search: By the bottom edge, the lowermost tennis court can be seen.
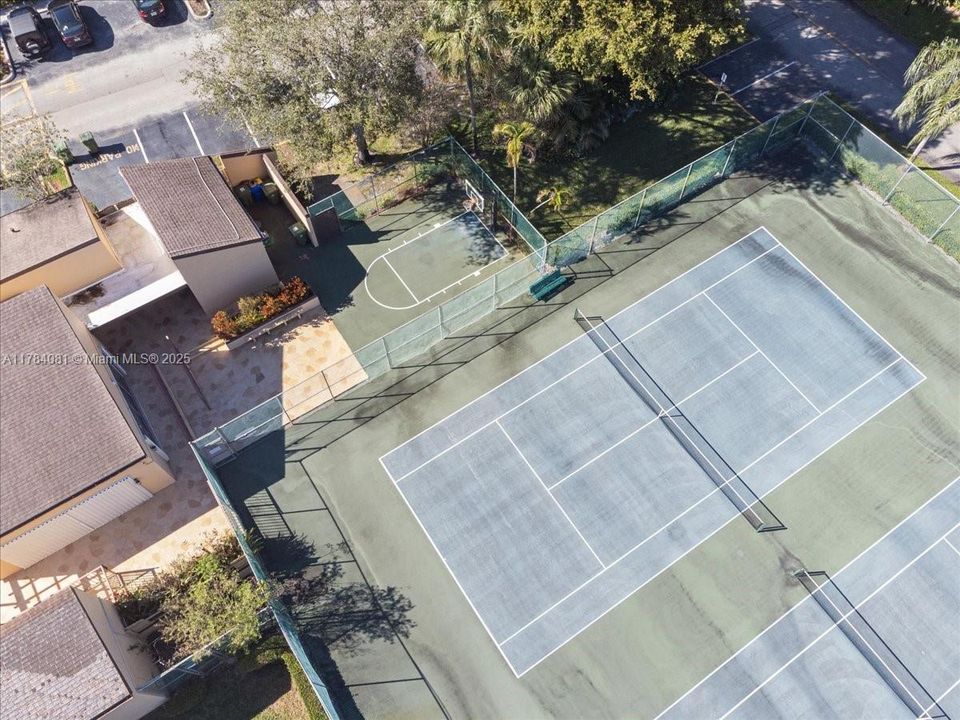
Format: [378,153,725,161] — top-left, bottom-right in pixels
[654,476,960,720]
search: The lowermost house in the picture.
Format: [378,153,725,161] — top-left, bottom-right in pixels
[0,590,168,720]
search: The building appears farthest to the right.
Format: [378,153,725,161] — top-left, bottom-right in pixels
[116,152,277,316]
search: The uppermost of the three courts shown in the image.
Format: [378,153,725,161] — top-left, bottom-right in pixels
[300,180,541,381]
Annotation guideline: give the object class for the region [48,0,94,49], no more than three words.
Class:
car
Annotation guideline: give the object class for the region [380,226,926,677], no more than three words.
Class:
tennis court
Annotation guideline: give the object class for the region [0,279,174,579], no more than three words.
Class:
building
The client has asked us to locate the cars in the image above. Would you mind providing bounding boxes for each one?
[134,0,169,20]
[48,0,94,49]
[4,3,51,54]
